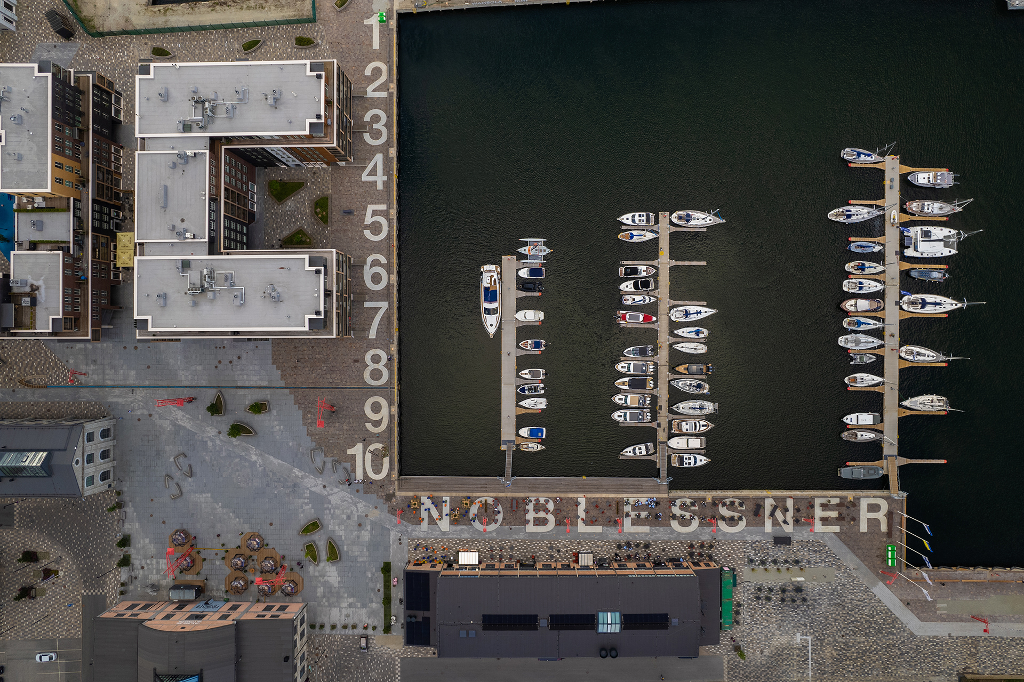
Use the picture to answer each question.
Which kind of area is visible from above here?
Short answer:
port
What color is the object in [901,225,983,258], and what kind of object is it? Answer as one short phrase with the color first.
white boat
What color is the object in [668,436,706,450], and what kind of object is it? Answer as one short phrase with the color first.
white boat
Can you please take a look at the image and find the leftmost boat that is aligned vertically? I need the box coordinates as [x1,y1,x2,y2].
[480,263,502,339]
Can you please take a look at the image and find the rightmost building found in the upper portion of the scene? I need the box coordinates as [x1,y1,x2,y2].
[133,58,358,339]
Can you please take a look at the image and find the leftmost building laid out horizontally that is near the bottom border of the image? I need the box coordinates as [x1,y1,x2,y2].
[92,593,308,682]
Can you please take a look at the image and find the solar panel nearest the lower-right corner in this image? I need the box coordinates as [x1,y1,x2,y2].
[622,615,669,631]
